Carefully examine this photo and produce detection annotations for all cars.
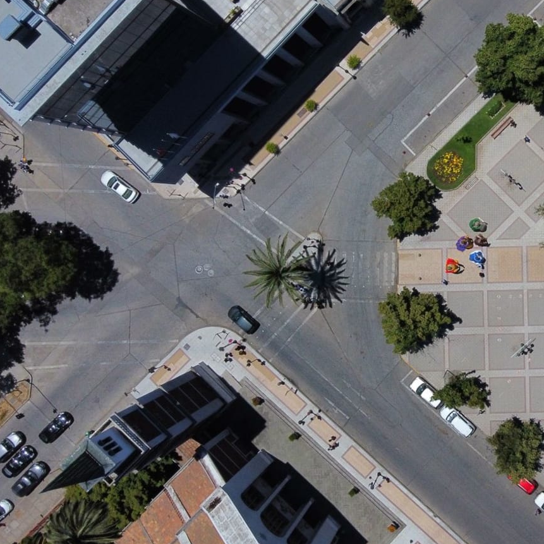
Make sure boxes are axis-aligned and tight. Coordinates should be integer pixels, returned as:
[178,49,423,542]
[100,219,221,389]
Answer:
[439,407,479,441]
[226,302,263,337]
[408,375,441,410]
[0,428,31,463]
[0,498,17,520]
[0,444,40,478]
[37,410,76,444]
[100,169,142,205]
[8,460,53,498]
[500,463,536,498]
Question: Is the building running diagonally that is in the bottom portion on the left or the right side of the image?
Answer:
left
